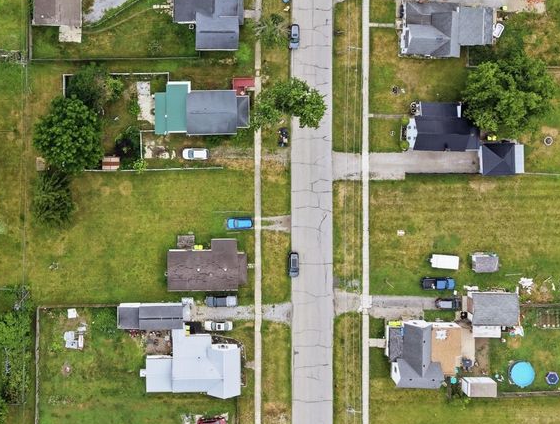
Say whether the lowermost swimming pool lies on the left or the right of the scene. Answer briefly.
right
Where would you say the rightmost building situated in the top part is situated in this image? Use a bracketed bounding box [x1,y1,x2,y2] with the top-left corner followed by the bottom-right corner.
[475,142,525,175]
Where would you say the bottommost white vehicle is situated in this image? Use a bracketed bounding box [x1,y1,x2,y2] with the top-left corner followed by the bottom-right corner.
[205,319,233,333]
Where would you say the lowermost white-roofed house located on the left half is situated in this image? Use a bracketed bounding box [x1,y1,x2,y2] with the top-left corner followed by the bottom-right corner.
[140,328,241,400]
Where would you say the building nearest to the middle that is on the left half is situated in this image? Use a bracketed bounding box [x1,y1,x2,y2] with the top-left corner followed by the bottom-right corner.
[167,235,247,292]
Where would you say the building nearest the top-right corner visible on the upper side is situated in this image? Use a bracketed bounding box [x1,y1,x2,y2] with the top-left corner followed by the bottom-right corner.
[400,3,494,58]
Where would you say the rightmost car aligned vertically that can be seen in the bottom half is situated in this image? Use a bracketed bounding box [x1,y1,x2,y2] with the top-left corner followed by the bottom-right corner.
[288,251,301,279]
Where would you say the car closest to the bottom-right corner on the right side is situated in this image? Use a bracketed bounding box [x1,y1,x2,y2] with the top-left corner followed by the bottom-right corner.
[435,298,461,311]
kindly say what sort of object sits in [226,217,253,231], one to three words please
car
